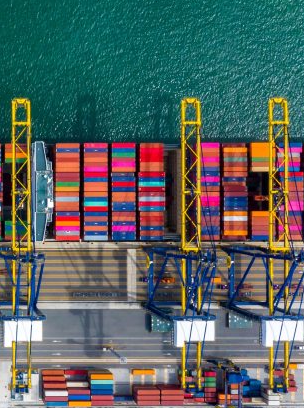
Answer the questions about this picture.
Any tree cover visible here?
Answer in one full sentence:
No, the picture contains no tree cover.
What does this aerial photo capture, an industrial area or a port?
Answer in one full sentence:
It's a port.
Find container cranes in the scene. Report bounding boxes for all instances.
[136,99,220,395]
[203,361,243,408]
[213,99,304,395]
[0,99,47,395]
